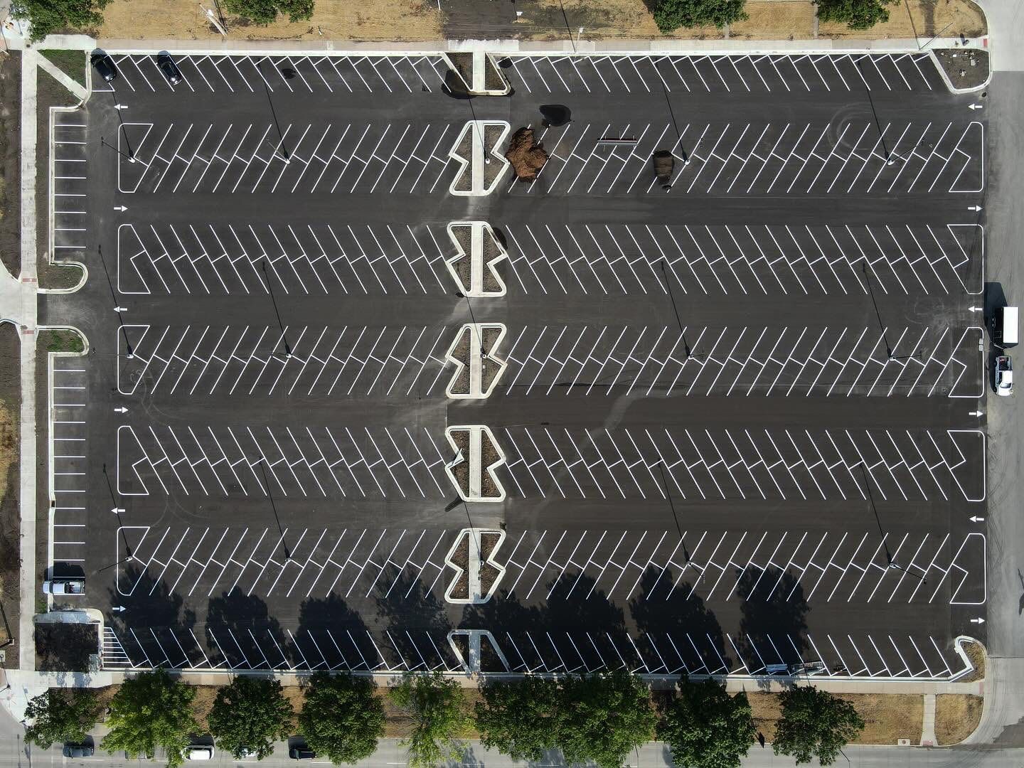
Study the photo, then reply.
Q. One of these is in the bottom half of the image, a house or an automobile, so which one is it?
automobile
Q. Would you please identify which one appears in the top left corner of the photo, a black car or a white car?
black car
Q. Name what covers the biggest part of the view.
paved ground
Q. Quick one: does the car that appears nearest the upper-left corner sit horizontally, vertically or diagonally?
diagonally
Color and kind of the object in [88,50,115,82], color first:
black car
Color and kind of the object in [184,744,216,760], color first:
white car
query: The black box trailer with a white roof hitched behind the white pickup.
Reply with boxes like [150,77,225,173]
[992,304,1019,350]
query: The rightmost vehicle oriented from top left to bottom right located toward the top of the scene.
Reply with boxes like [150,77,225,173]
[156,52,182,82]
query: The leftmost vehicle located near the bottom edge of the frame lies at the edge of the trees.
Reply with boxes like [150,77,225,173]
[63,744,94,760]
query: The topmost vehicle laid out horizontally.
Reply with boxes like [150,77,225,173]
[42,580,83,597]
